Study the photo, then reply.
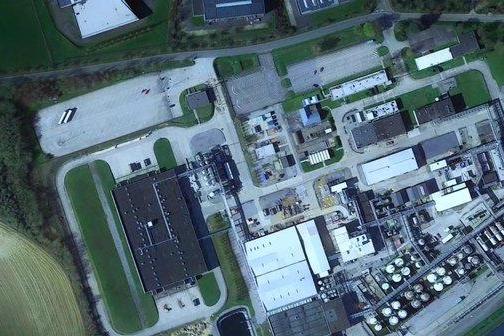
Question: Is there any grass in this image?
Yes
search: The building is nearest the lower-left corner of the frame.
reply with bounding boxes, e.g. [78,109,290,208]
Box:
[111,168,207,296]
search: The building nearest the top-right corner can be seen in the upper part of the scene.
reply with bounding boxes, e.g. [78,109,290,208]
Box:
[449,31,479,59]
